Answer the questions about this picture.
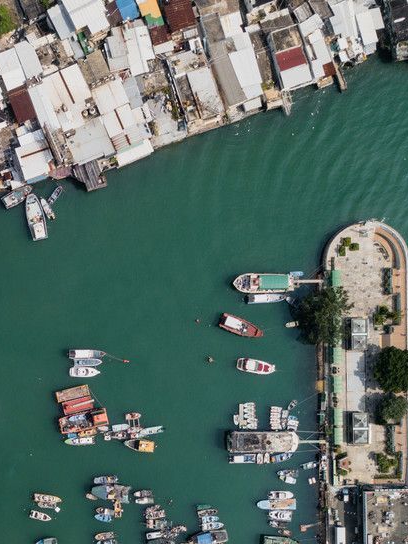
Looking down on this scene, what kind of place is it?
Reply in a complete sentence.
The area seen from above is a residential area.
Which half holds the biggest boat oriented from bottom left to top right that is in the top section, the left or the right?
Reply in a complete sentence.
The biggest boat oriented from bottom left to top right that is in the top section is on the left side of the image.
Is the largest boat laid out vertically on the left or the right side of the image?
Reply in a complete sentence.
It is on the left.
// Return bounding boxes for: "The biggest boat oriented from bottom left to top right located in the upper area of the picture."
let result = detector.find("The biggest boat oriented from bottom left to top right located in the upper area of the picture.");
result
[1,185,33,209]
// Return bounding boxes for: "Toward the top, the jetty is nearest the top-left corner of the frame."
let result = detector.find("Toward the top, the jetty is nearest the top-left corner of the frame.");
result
[73,160,106,193]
